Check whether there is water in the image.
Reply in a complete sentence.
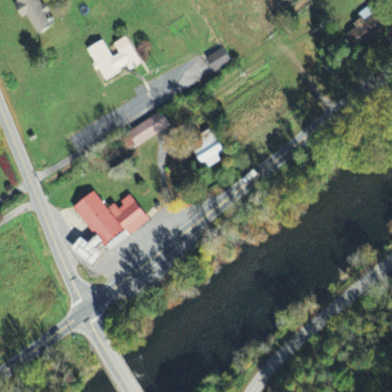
Yes, water shows up in the scene.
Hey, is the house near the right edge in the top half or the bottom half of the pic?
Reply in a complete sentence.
The house near the right edge is in the top half of the image.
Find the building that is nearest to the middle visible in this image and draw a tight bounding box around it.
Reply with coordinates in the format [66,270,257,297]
[194,130,221,168]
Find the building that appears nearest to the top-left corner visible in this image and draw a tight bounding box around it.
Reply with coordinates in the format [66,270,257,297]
[16,0,54,34]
